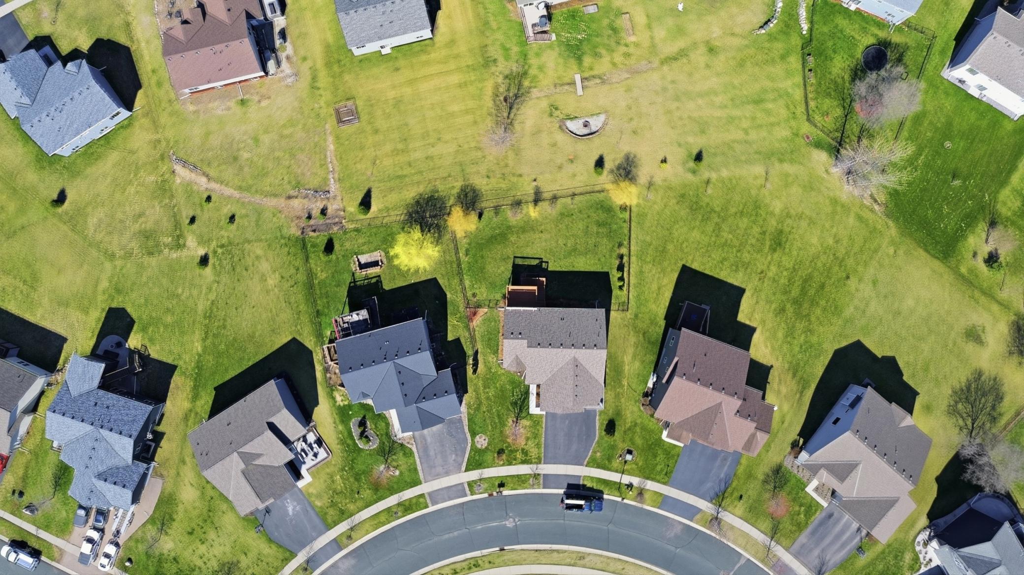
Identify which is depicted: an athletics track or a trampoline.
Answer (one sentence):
Looking from above, you can make out a trampoline.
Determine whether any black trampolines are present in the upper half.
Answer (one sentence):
Yes, there is a black trampoline in the upper half.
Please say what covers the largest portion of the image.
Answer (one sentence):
Most of the picture is covered by grass.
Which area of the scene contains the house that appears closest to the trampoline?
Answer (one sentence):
Look in the top right portion of the view to spot the house that appears closest to the trampoline.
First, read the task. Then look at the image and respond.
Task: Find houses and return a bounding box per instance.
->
[41,353,169,509]
[188,379,314,517]
[336,0,432,55]
[504,277,607,414]
[792,381,932,544]
[950,2,1024,114]
[157,0,270,102]
[321,298,461,434]
[842,0,922,33]
[0,40,134,158]
[925,510,1024,575]
[641,302,775,458]
[515,0,557,45]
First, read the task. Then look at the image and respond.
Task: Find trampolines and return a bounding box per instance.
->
[863,42,897,72]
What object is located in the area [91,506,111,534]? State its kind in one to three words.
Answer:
car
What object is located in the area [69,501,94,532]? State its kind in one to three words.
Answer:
truck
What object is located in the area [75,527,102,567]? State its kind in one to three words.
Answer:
truck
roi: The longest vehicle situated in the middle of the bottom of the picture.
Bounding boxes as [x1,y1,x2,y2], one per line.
[564,498,605,516]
